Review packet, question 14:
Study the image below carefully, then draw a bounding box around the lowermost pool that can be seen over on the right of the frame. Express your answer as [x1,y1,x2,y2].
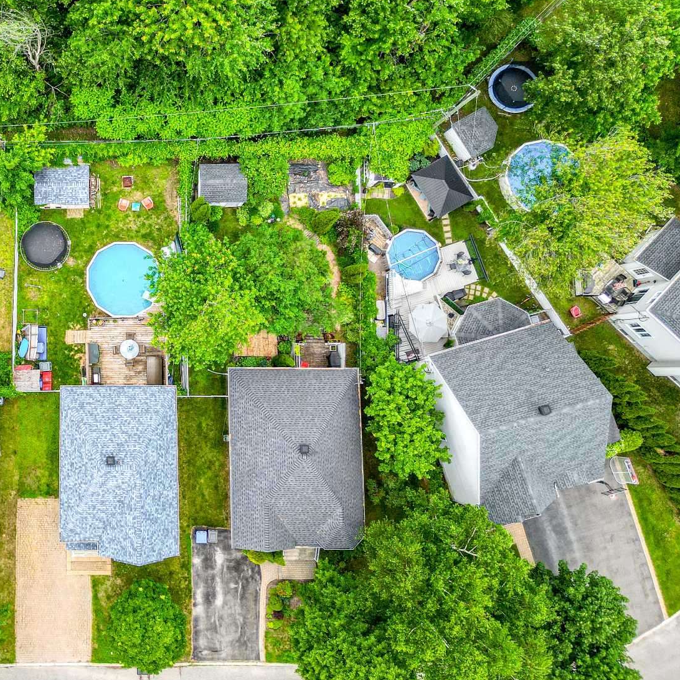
[382,228,440,283]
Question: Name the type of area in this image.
residential area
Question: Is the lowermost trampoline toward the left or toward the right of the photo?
left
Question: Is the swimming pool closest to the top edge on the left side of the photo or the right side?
right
